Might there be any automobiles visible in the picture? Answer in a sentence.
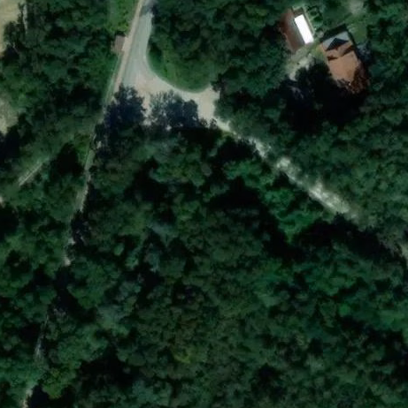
No, there's no automobile here.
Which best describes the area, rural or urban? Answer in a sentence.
It looks rural.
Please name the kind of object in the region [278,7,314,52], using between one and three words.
shed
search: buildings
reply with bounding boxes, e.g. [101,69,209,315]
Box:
[278,7,314,52]
[319,27,367,85]
[110,34,126,51]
